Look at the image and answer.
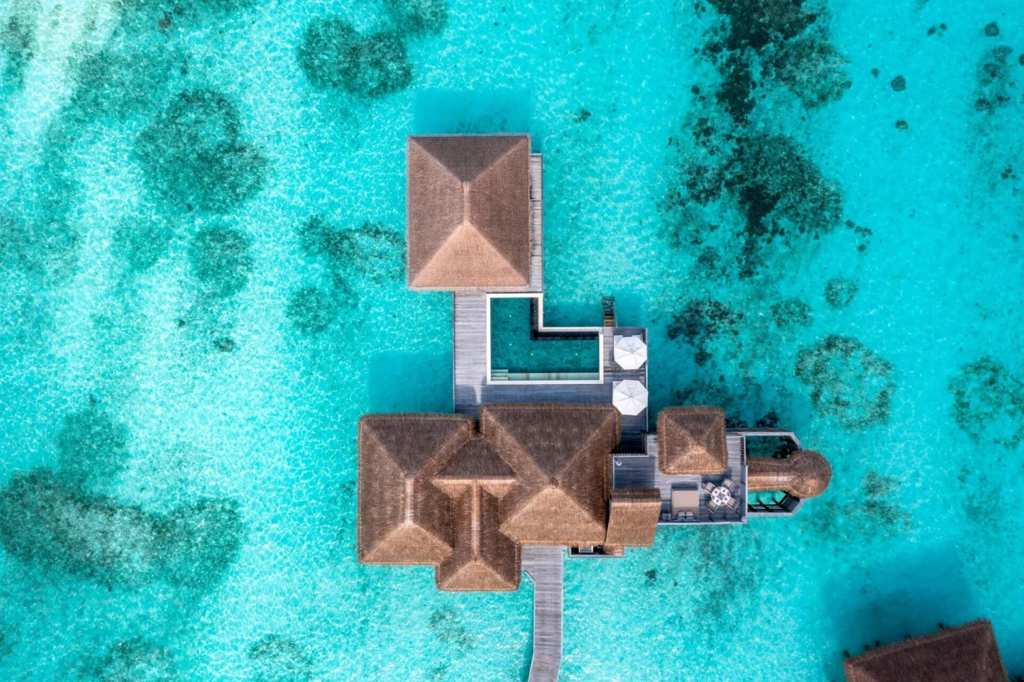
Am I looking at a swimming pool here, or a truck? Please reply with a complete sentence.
Looking from above, you can make out a swimming pool.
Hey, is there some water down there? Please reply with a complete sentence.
Yes, there is water in the image.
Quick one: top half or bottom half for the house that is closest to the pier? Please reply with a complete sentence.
The house that is closest to the pier sits in the bottom half of the picture.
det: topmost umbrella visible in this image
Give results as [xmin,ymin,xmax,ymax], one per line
[614,336,647,369]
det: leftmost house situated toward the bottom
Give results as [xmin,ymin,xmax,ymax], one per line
[357,401,662,593]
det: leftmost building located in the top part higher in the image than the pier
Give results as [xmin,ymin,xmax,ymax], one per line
[405,132,534,294]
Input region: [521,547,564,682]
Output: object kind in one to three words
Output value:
pier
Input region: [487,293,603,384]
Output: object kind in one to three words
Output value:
swimming pool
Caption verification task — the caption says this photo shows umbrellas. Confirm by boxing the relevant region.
[614,336,647,369]
[612,380,647,415]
